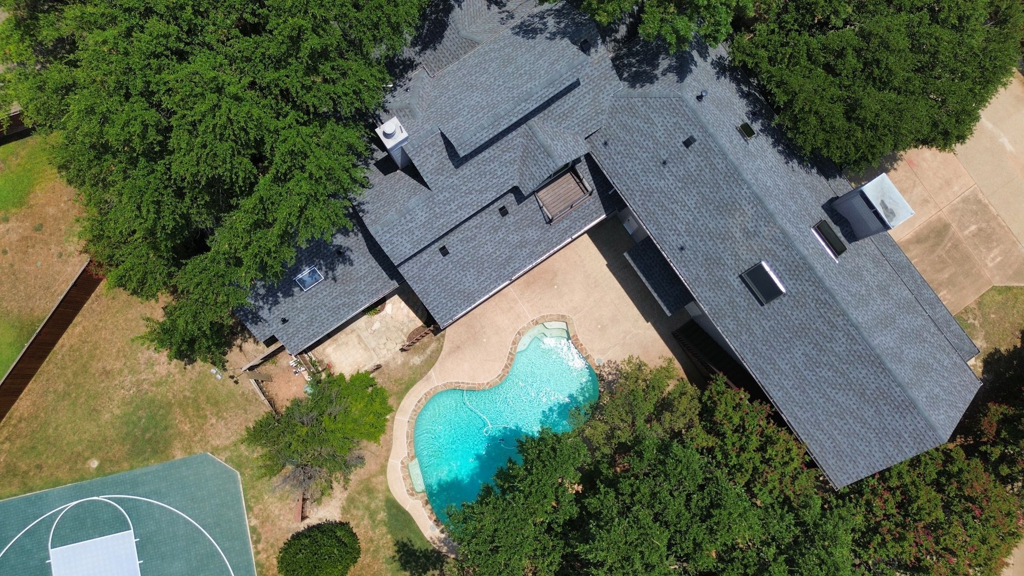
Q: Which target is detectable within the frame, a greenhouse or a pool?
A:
pool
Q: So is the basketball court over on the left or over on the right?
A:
left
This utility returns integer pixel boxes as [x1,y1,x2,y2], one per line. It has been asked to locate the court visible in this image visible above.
[0,452,258,576]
